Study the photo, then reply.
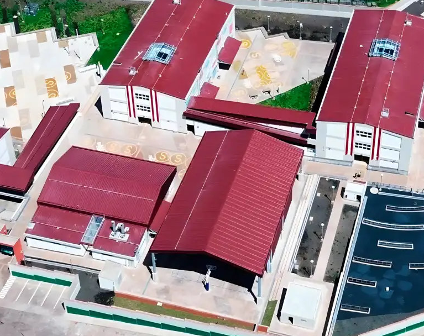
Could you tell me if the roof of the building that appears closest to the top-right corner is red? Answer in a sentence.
Yes, the roof of the building that appears closest to the top-right corner is indeed red.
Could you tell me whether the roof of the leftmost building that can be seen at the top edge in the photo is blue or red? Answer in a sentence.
The color of the roof of the leftmost building that can be seen at the top edge is red.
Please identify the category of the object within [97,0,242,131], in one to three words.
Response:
building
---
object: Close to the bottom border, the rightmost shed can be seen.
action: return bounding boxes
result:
[276,282,326,334]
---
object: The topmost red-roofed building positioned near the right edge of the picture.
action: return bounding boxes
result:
[314,9,424,175]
